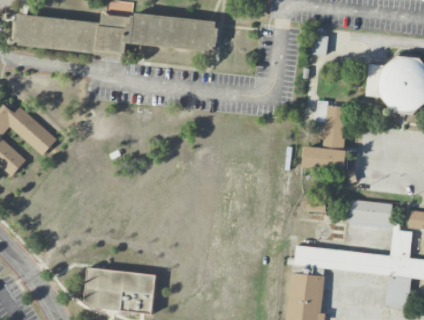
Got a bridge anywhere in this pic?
No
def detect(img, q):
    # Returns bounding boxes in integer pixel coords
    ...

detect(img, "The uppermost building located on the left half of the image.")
[2,2,218,58]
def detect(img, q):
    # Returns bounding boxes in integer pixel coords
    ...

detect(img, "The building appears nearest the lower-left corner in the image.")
[83,268,156,314]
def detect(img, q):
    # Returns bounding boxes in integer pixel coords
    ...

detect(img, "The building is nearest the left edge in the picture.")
[0,106,57,177]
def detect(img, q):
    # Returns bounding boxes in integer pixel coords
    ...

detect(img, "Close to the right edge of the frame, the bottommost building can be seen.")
[287,226,424,309]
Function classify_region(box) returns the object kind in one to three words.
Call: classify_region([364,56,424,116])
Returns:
building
